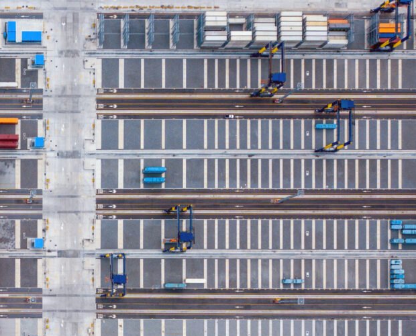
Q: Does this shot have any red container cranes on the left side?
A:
No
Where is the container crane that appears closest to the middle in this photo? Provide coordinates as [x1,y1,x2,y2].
[162,206,195,252]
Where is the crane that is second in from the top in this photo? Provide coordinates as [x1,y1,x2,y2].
[250,41,287,96]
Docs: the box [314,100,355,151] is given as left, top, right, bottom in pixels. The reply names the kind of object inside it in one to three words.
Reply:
container crane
